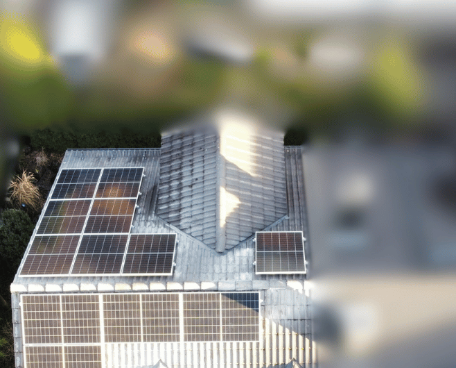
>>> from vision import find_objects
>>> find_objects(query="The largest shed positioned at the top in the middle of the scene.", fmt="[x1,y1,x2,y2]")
[184,17,260,88]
